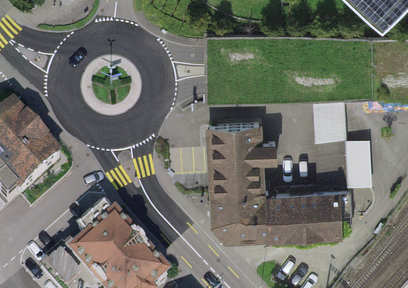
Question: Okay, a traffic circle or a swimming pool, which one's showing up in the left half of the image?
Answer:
traffic circle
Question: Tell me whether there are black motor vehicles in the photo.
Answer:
Yes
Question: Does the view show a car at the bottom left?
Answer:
Yes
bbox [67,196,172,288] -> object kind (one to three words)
house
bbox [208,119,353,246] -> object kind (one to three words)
building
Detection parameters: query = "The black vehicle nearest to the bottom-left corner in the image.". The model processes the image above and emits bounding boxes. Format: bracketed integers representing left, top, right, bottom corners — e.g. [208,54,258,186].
[25,256,44,279]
